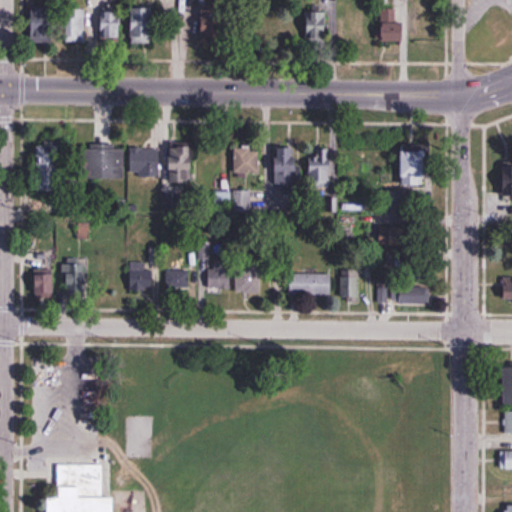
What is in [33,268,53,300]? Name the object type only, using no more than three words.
house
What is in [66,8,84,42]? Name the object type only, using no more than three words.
house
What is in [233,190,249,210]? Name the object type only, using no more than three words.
building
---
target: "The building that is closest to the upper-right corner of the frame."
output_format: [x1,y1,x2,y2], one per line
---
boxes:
[380,8,402,42]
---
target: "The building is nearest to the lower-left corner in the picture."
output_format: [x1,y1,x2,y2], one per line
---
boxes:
[46,464,112,512]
